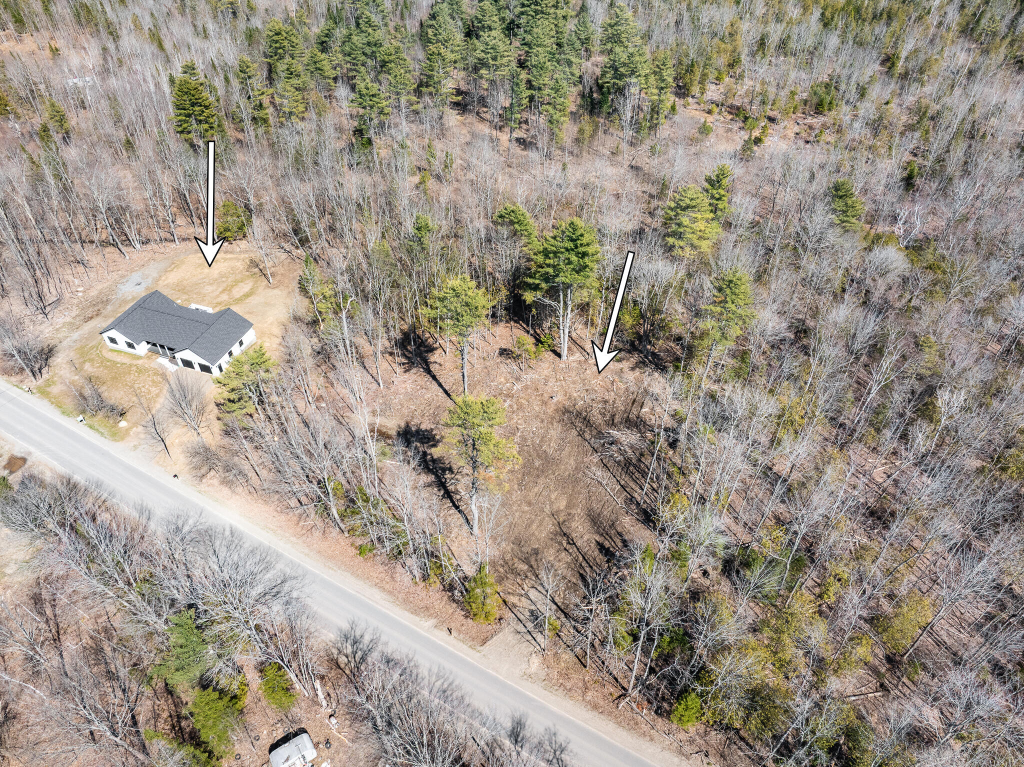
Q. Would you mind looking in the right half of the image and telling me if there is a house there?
No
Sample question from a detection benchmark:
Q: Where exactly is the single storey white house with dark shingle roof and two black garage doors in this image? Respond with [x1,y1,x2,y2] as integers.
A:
[100,291,255,377]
